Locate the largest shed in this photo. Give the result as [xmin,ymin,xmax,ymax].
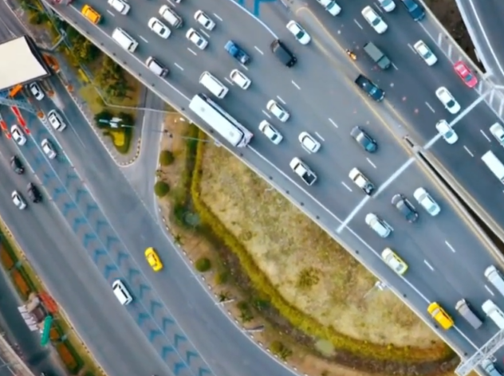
[18,297,54,332]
